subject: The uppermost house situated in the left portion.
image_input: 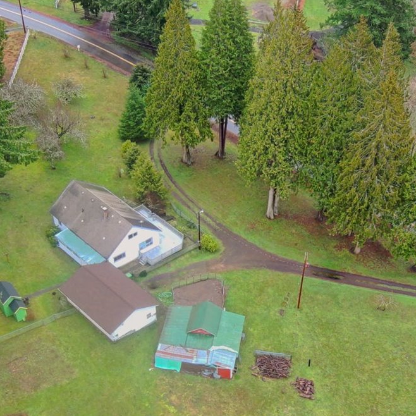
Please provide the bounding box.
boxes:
[50,180,184,270]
